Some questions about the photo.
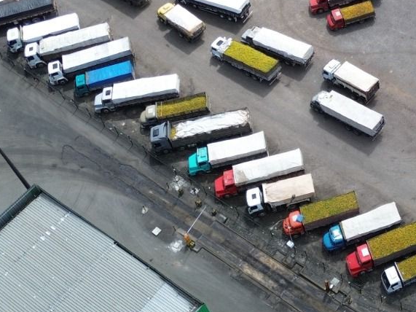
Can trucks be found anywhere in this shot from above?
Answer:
Yes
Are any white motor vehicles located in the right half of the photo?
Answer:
Yes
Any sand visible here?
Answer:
No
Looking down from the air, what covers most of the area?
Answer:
paved ground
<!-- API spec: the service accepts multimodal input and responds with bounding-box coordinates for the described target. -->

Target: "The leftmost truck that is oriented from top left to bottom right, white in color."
[156,0,208,43]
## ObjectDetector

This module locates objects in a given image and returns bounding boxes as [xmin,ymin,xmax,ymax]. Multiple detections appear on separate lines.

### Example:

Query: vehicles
[174,0,253,24]
[156,0,208,43]
[70,60,139,104]
[0,0,61,33]
[25,22,117,72]
[6,13,86,59]
[90,74,185,118]
[152,109,255,158]
[208,149,307,205]
[322,58,381,105]
[315,203,402,262]
[303,0,377,19]
[134,95,213,134]
[376,254,416,298]
[319,1,376,36]
[313,90,385,143]
[241,27,316,72]
[242,174,318,220]
[183,132,272,181]
[339,223,416,281]
[210,38,281,84]
[47,38,140,90]
[275,191,360,245]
